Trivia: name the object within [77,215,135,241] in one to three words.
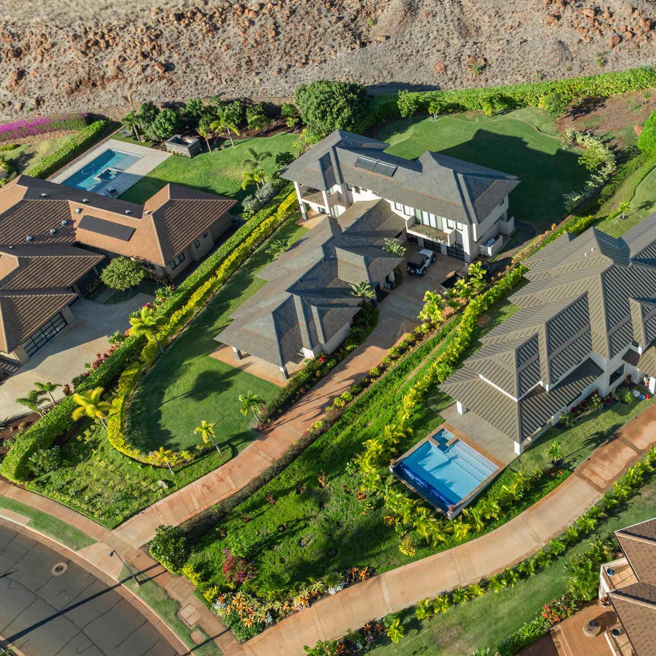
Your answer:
solar panel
